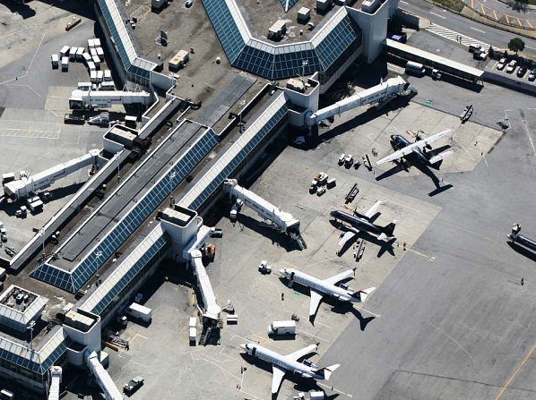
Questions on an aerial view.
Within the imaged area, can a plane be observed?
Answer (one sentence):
Yes, looking at the shot, I can spot a plane.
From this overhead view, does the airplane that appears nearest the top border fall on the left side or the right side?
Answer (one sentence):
It is on the right.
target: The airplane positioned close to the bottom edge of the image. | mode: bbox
[242,343,339,394]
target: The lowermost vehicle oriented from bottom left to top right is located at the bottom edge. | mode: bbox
[123,377,144,393]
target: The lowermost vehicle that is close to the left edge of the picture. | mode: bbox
[0,387,21,400]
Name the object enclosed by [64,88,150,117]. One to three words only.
jet bridge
